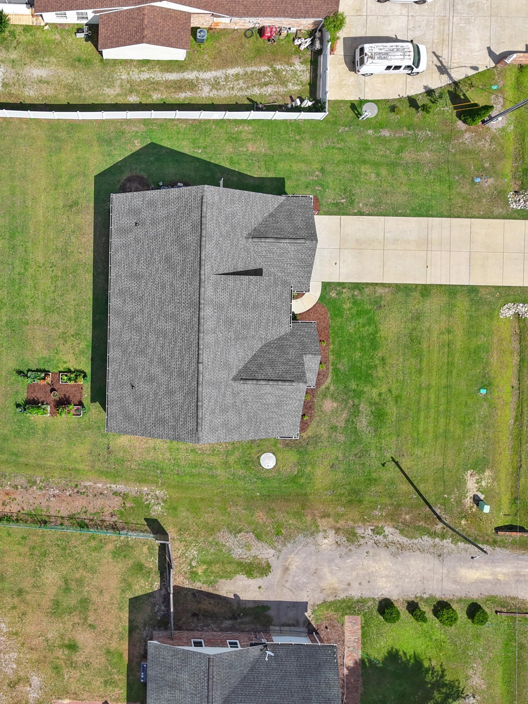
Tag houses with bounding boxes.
[36,0,341,59]
[104,177,321,443]
[147,631,344,704]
